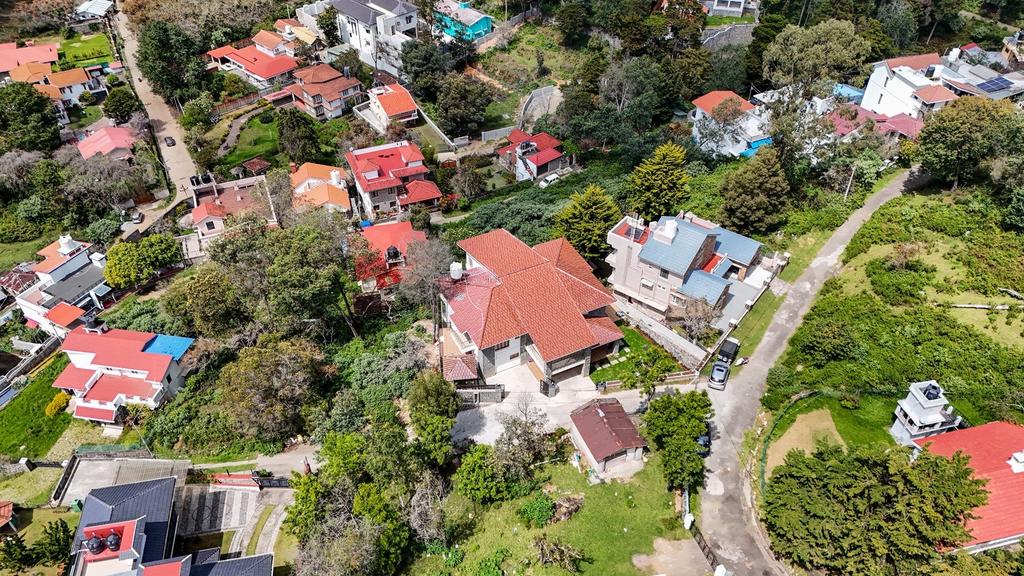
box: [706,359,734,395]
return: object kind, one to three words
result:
car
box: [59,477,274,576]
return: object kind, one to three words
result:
house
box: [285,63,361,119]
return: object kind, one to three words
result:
house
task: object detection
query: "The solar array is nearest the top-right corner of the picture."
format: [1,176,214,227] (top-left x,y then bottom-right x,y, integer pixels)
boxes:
[973,73,1018,94]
